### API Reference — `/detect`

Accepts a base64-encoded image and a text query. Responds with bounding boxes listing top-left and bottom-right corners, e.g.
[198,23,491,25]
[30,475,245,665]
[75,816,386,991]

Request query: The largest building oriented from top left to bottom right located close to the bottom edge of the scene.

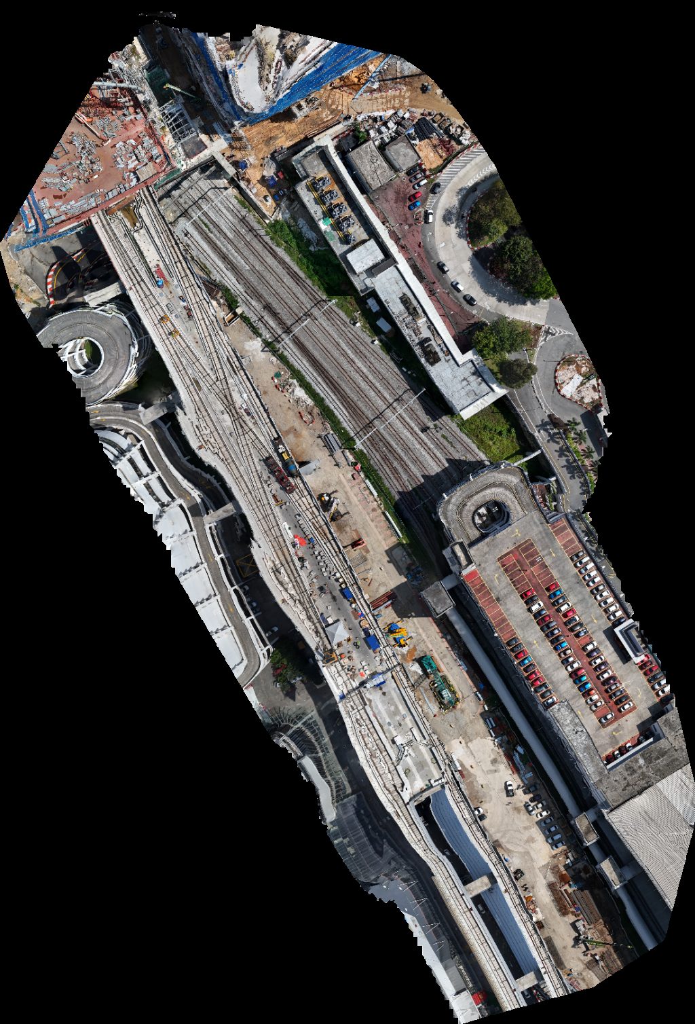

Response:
[370,866,481,1023]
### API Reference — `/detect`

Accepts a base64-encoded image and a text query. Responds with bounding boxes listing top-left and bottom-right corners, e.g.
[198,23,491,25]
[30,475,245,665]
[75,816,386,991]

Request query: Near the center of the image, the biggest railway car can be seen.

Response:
[274,447,297,478]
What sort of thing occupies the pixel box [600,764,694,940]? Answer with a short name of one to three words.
building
